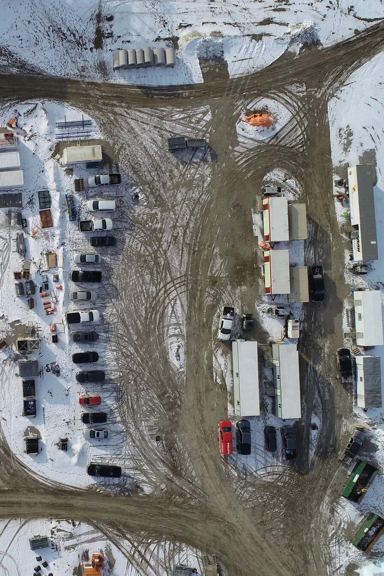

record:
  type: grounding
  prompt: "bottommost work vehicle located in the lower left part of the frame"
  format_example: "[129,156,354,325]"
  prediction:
[89,551,105,572]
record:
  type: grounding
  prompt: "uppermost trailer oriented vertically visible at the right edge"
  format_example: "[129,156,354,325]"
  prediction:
[344,164,378,262]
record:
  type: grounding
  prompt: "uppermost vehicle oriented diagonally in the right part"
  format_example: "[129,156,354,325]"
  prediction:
[337,428,364,465]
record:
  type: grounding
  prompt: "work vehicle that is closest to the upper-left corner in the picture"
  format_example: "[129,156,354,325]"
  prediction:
[6,113,23,130]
